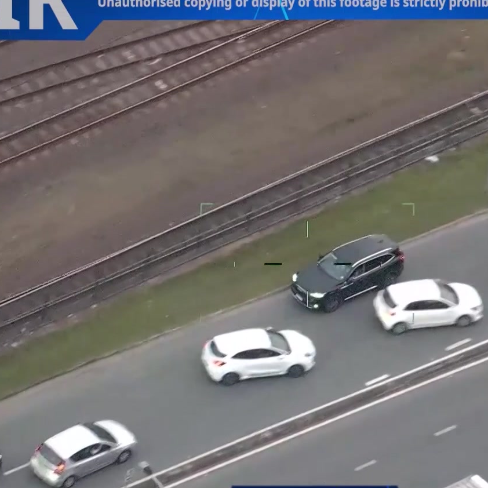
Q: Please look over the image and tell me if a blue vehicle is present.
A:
No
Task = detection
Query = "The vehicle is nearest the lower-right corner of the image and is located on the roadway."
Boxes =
[374,273,481,335]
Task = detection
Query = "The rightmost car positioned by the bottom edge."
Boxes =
[28,415,137,488]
